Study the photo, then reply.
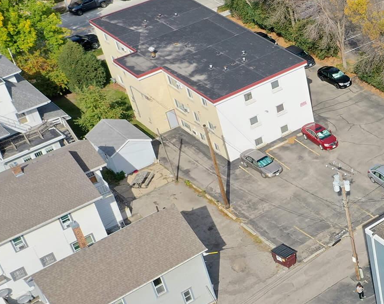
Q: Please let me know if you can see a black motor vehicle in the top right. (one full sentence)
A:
Yes, a black motor vehicle can be seen in the top right.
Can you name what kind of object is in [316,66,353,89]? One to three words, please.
car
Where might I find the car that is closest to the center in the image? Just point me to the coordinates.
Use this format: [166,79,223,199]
[240,148,283,178]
